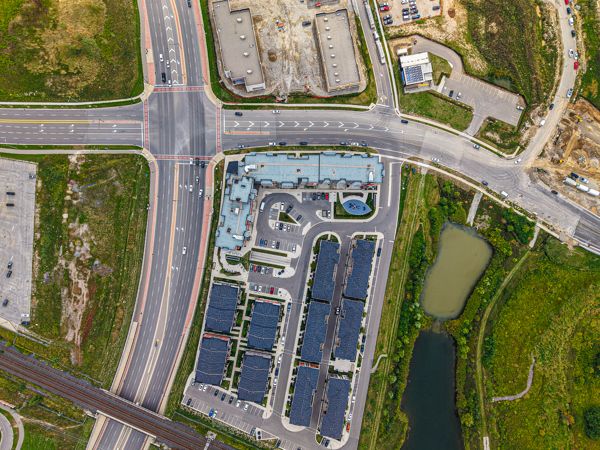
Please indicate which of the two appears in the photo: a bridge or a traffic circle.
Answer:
bridge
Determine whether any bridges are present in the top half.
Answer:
No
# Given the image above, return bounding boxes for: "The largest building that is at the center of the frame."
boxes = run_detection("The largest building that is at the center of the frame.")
[216,152,384,250]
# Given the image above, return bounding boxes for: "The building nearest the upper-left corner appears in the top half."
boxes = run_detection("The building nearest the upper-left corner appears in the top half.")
[213,0,265,90]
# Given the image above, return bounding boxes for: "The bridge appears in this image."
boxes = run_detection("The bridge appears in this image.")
[89,383,173,442]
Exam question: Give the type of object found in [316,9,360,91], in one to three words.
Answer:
building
